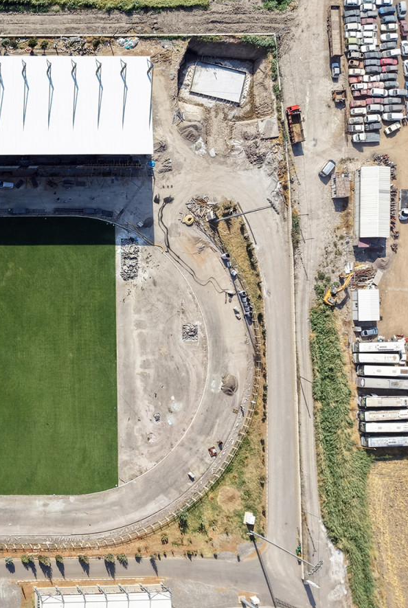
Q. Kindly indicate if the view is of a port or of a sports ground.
sports ground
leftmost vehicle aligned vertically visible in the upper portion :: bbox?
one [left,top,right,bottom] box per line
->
[285,105,305,144]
